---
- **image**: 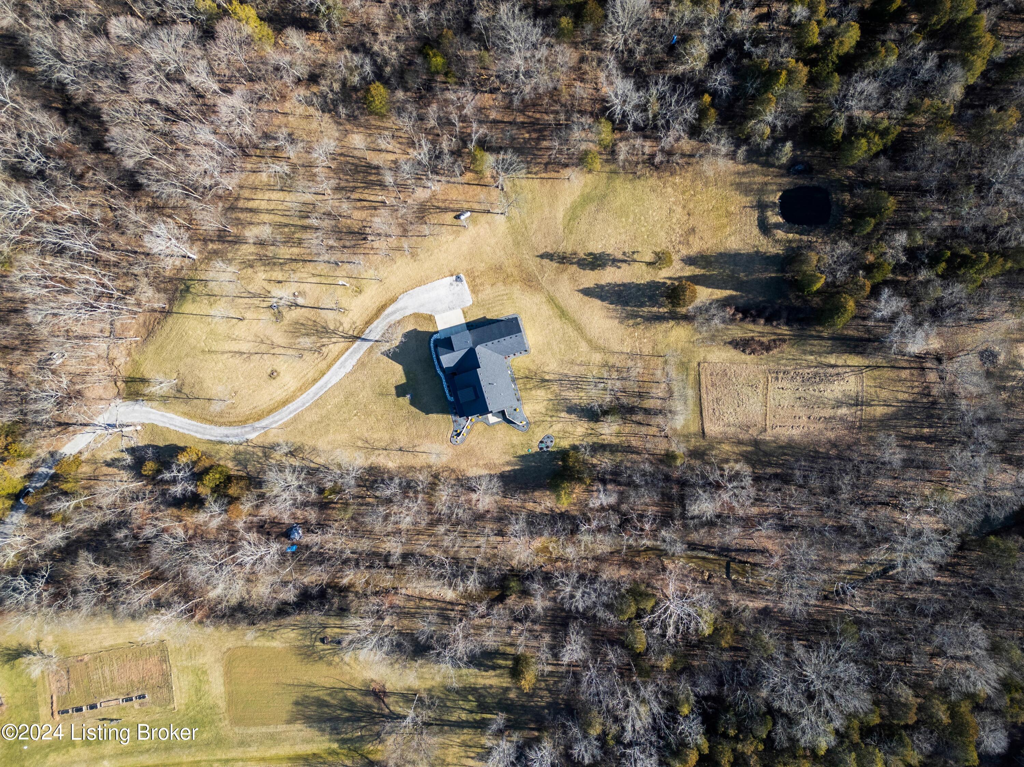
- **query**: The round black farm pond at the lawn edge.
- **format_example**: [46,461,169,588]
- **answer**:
[777,186,831,227]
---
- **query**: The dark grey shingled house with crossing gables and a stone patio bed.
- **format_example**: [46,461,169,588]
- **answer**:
[437,316,526,420]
